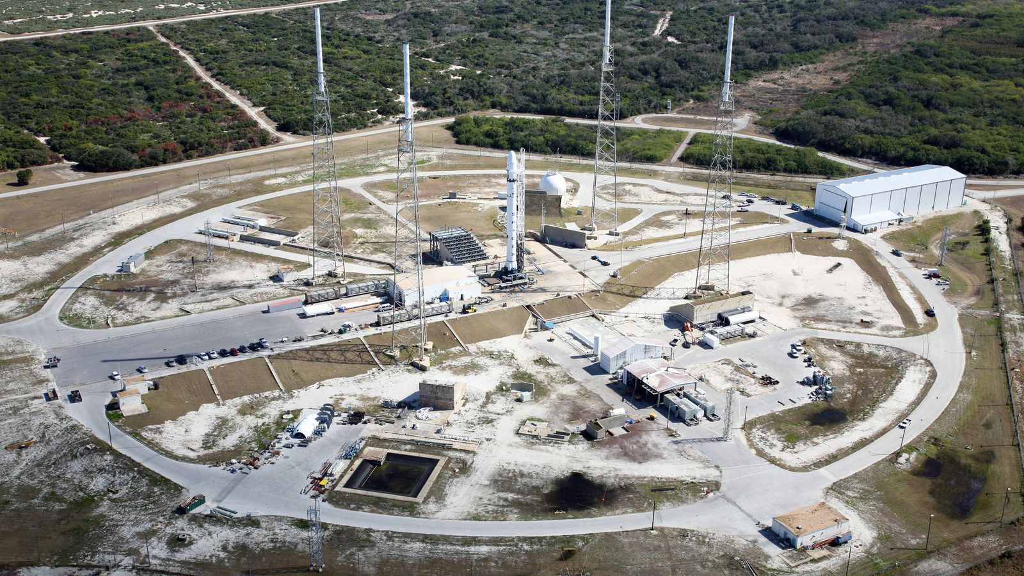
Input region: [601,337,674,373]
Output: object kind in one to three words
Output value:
building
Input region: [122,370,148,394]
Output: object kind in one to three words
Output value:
building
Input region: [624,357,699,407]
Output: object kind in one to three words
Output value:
shed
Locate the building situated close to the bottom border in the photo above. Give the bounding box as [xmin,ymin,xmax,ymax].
[775,501,851,548]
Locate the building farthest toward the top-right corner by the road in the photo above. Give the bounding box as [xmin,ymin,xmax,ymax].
[818,164,968,233]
